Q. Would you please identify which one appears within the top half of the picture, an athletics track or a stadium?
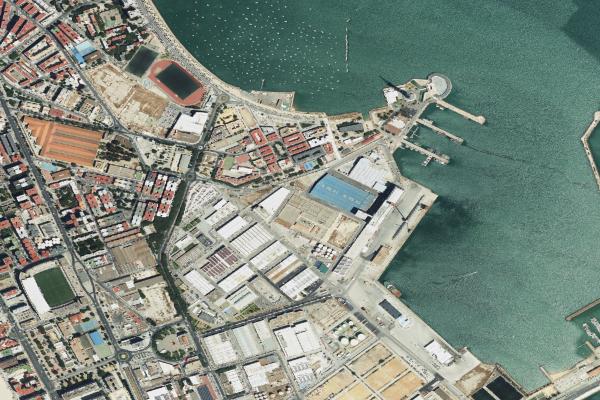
athletics track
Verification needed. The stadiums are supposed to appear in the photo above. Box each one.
[20,261,79,315]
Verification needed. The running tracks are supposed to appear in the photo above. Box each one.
[151,56,206,107]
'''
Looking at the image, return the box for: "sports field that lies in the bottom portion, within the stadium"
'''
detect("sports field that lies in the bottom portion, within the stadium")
[34,268,75,307]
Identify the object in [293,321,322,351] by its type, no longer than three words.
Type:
building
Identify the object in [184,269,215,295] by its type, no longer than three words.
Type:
building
